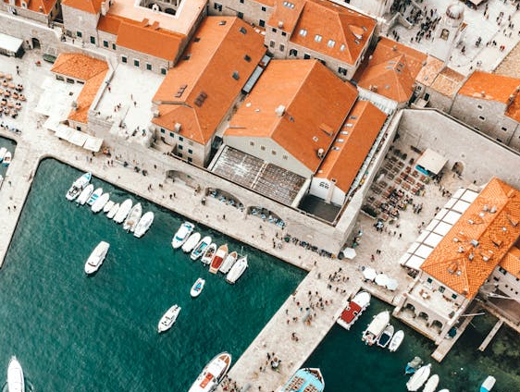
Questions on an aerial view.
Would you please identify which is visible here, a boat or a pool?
boat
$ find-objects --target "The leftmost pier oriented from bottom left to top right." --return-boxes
[213,271,363,392]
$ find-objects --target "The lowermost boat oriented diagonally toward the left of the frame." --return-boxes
[188,350,226,392]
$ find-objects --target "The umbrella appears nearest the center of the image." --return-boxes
[342,244,358,259]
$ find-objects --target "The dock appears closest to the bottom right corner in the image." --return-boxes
[477,318,506,352]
